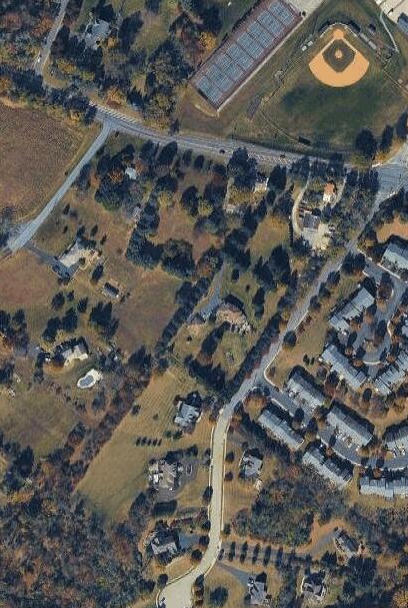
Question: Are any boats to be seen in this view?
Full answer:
No, there appears to be no boat in this shot.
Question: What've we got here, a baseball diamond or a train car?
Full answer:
Visible in the photo is a baseball diamond.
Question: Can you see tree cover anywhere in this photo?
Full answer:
Yes, there is tree cover in the image.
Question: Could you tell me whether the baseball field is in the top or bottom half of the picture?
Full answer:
Seen from above, the baseball field lies in the top half of the view.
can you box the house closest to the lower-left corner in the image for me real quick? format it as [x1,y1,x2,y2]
[149,533,183,559]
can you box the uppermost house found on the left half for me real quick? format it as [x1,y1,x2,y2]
[84,18,111,45]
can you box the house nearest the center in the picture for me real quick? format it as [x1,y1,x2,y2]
[217,300,249,333]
